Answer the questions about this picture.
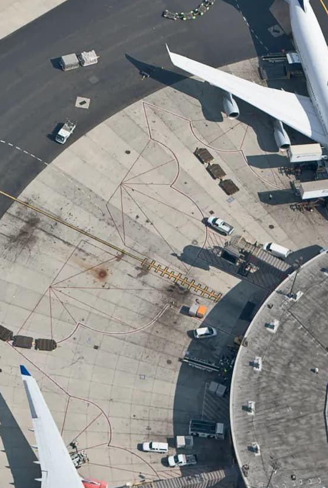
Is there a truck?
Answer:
Yes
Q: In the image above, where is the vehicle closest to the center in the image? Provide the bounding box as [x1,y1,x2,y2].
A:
[207,218,235,237]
